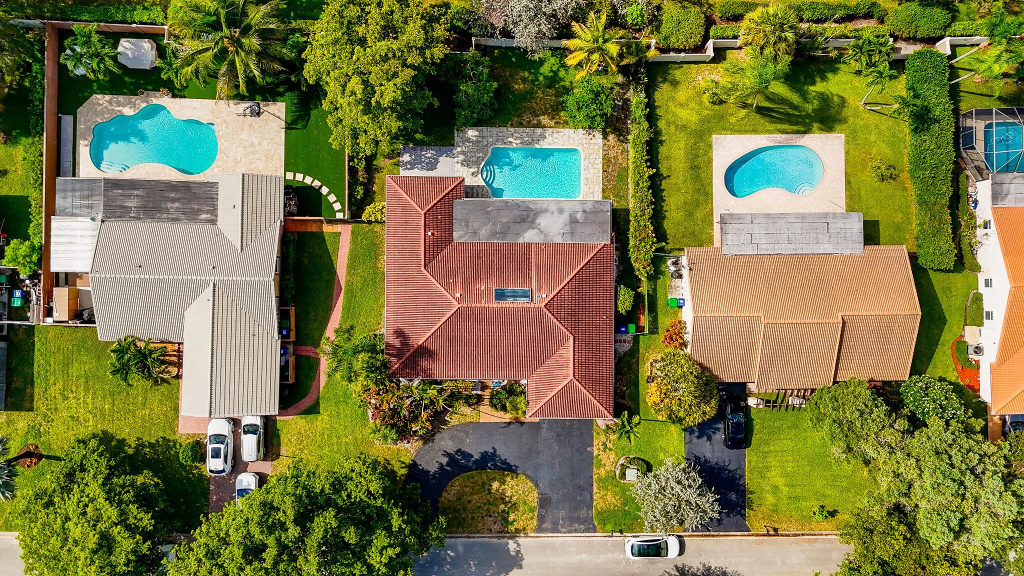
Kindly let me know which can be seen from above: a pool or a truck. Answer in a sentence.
The image shows a pool.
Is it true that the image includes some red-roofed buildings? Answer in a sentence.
Yes, there's a red-roofed building down there.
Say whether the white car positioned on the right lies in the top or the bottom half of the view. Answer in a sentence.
The bottom half of the photo is where the white car positioned on the right is.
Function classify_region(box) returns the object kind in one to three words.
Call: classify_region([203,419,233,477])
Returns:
car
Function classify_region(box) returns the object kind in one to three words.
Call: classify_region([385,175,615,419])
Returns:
house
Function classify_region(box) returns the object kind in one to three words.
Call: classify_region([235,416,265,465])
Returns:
car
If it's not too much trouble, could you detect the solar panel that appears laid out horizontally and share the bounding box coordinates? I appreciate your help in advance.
[494,287,531,304]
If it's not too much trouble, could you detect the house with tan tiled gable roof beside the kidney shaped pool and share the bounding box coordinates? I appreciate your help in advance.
[682,212,923,391]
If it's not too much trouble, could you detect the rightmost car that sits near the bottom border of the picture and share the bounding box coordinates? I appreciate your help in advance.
[626,536,682,564]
